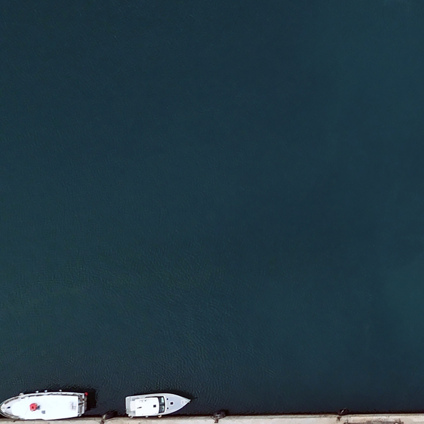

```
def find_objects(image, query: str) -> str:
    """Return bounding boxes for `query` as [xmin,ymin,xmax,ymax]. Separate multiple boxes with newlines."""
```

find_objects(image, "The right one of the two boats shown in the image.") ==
[126,393,193,417]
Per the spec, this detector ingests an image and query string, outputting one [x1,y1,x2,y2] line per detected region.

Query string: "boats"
[126,393,193,417]
[0,392,90,422]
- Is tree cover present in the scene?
No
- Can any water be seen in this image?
Yes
